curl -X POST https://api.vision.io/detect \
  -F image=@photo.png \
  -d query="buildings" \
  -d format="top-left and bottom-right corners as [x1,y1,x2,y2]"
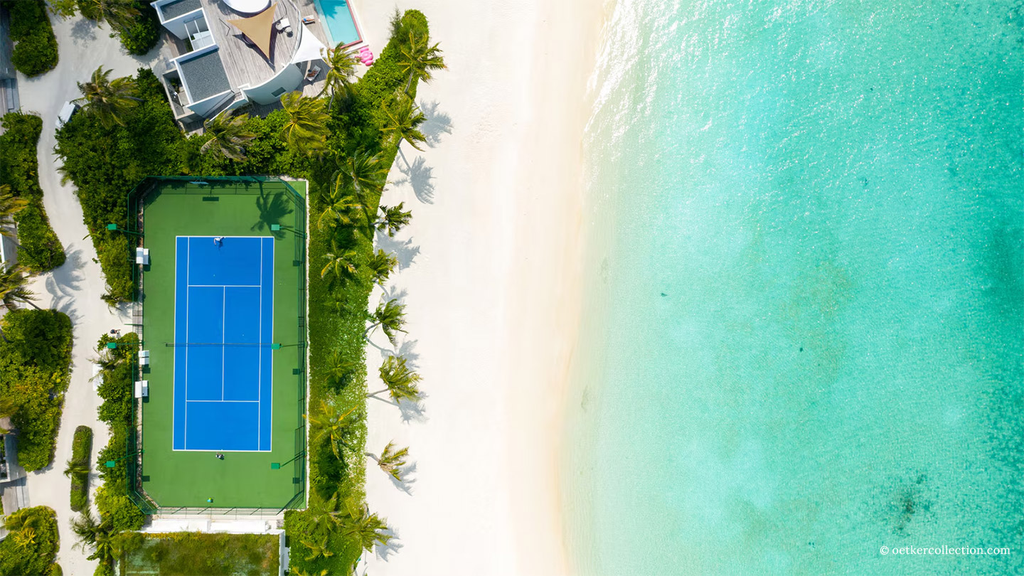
[148,0,310,127]
[118,514,291,576]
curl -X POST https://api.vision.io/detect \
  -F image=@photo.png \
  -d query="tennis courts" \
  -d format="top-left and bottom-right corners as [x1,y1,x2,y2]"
[143,181,306,507]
